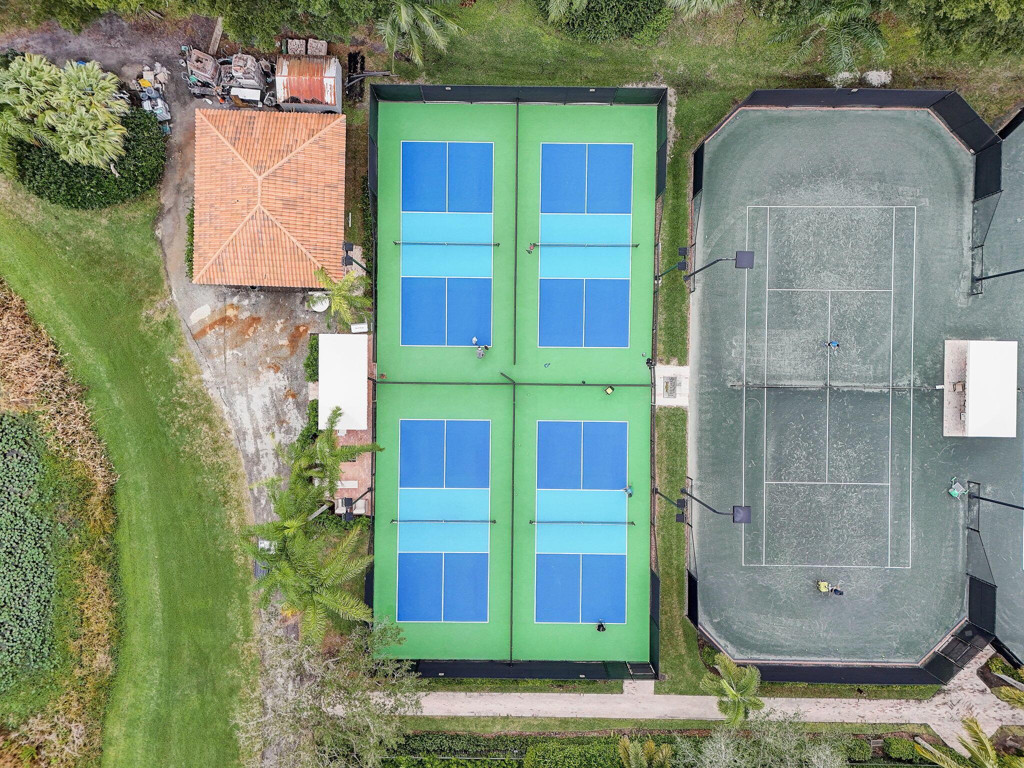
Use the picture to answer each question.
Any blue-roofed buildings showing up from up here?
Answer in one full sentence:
No, the picture doesn't show any blue-roofed building.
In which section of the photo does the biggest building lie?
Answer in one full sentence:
Look in the top left portion of the view to spot the biggest building.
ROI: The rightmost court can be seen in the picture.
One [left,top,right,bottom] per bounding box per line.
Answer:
[966,127,1024,665]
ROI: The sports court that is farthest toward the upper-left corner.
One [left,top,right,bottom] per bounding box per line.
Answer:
[399,141,495,346]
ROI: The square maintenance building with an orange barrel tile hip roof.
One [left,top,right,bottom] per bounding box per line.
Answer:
[189,106,349,290]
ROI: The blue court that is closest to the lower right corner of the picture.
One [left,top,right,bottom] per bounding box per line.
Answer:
[534,420,629,625]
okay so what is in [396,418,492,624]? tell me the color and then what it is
blue sports court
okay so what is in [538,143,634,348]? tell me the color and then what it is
blue sports court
